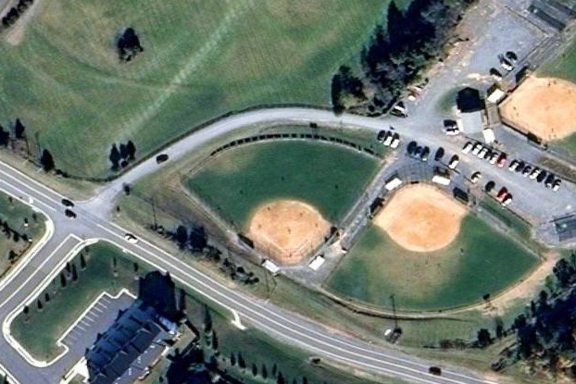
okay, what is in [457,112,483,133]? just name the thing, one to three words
building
